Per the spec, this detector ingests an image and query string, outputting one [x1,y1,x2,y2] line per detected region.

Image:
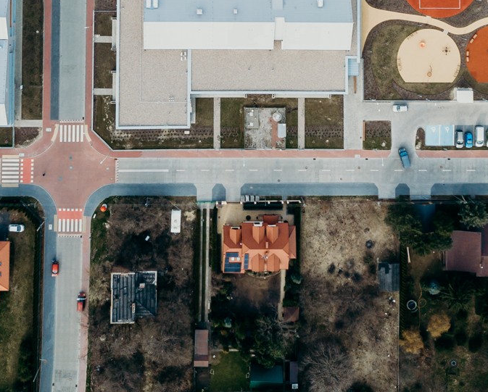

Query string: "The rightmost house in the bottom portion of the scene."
[444,215,488,276]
